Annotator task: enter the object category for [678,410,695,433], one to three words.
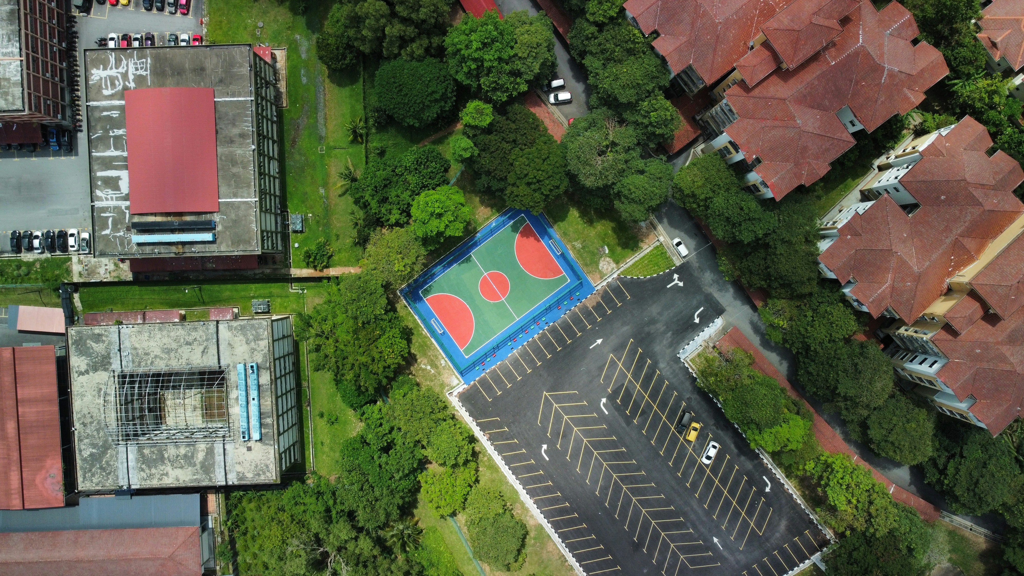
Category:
car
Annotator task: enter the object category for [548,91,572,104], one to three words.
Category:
vehicle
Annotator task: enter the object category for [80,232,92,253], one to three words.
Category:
vehicle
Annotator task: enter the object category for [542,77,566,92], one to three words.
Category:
car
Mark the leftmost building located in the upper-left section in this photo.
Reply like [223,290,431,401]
[0,0,70,129]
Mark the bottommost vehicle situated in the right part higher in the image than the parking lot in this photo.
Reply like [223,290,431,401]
[672,236,689,258]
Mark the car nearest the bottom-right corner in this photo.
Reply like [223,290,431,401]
[702,440,717,464]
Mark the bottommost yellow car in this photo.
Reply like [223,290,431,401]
[686,421,700,442]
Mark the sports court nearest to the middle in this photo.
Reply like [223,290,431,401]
[401,201,594,383]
